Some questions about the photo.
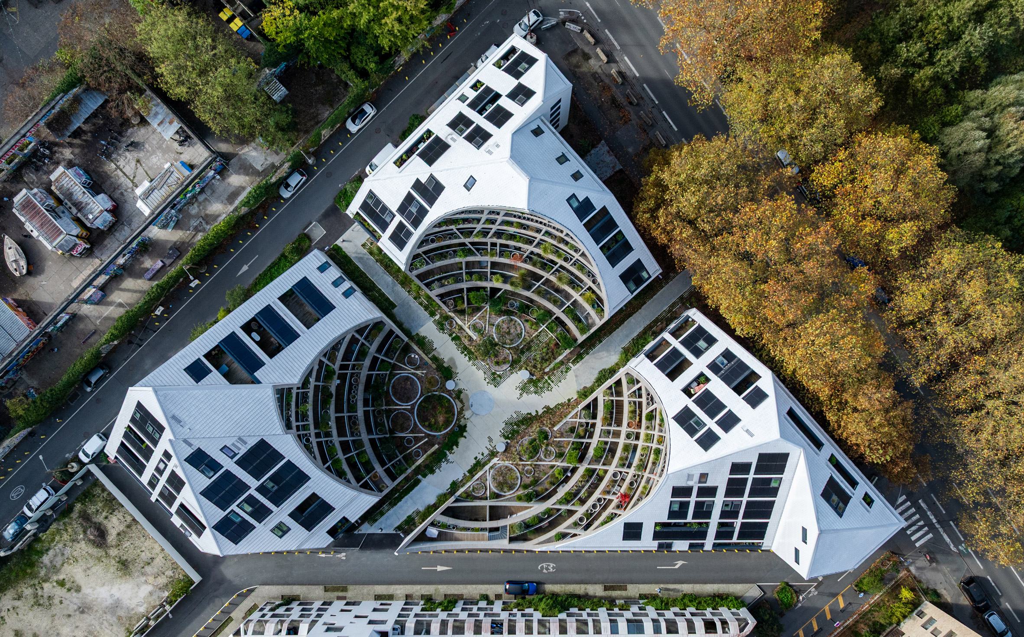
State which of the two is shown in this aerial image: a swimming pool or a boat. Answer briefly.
boat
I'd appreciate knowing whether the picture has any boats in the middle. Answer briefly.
No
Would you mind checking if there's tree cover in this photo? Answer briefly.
Yes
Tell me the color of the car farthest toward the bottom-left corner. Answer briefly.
blue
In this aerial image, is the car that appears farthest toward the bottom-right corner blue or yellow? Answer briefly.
blue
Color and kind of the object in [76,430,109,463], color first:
white van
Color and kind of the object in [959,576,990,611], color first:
black car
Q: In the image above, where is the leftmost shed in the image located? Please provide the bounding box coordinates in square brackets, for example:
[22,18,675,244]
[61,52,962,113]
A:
[0,278,39,358]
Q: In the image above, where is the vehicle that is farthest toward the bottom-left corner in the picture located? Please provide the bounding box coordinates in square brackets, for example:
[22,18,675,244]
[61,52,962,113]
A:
[1,509,32,541]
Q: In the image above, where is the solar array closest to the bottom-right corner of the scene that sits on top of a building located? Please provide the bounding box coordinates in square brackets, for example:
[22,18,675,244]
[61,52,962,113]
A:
[821,474,852,518]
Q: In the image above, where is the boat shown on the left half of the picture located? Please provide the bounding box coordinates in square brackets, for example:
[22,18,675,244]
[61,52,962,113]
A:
[1,233,28,277]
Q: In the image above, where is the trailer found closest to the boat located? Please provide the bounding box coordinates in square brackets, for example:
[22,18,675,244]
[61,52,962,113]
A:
[13,188,98,258]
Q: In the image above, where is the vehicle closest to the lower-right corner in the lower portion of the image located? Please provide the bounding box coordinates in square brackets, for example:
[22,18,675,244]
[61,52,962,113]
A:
[982,609,1013,637]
